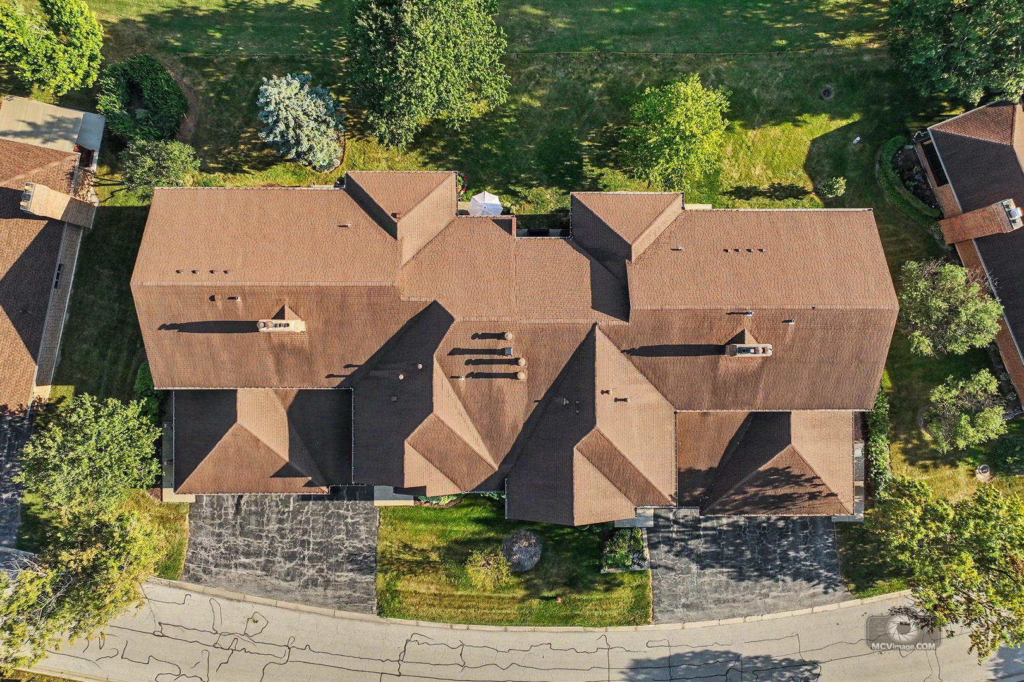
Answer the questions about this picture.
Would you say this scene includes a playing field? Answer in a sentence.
No, there appears to be no playing field in this shot.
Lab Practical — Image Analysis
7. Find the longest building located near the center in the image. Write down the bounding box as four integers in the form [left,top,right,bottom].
[129,169,898,526]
